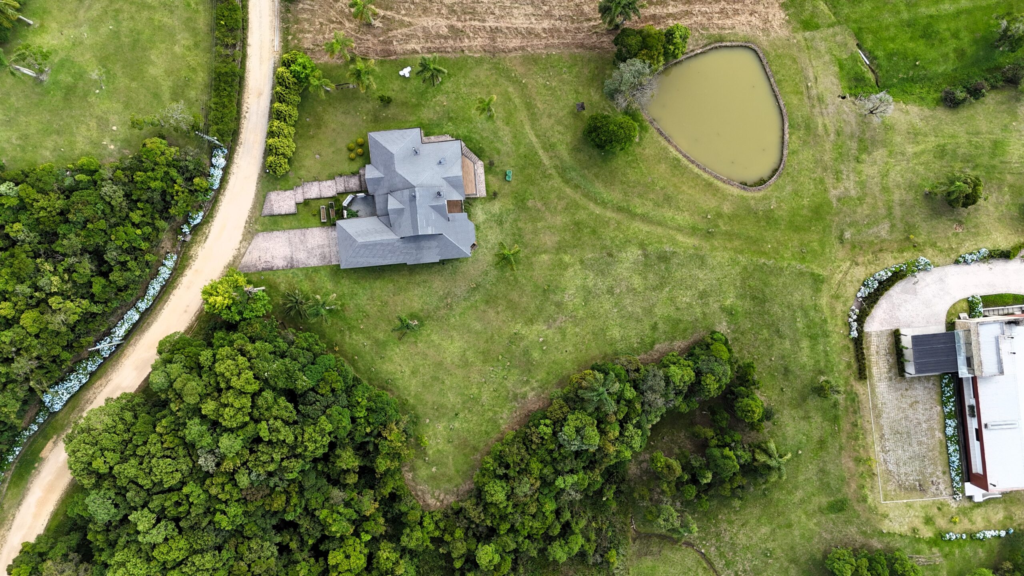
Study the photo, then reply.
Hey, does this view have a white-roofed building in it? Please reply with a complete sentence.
Yes, a white-roofed building can be made out from above.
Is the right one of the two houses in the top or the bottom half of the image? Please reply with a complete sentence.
You can find the right one of the two houses in the bottom half.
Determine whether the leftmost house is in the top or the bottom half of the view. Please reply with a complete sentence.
You can find the leftmost house in the top half.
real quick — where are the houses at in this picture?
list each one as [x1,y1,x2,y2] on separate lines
[336,127,486,268]
[906,314,1024,501]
